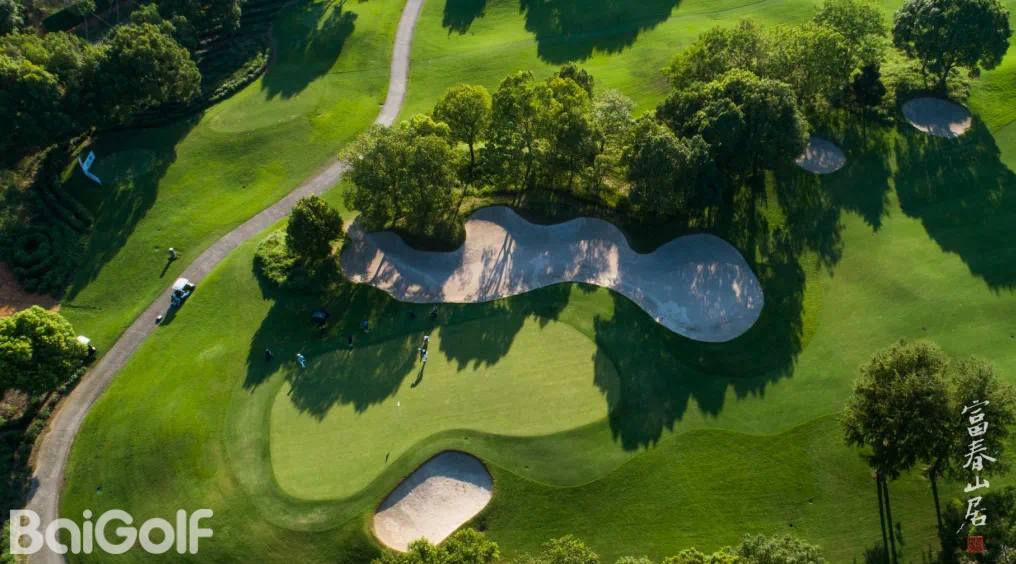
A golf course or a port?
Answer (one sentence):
This image shows a golf course.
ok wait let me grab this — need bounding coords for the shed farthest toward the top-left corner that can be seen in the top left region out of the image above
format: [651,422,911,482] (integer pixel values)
[30,7,82,40]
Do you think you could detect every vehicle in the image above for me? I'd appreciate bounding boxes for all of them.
[172,283,191,306]
[76,336,95,359]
